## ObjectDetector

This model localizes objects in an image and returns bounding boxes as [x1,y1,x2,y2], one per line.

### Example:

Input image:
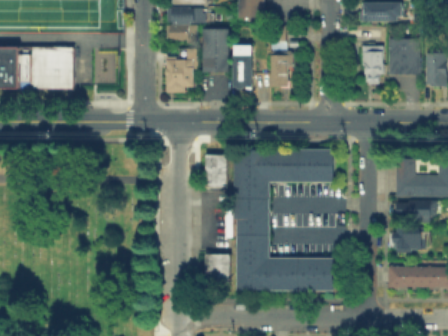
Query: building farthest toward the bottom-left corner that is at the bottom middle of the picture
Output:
[204,254,230,285]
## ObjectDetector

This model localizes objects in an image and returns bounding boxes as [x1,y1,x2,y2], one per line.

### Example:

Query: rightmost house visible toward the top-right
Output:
[426,52,448,86]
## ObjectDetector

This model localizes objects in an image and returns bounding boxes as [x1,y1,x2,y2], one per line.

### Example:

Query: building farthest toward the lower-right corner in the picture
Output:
[389,266,448,289]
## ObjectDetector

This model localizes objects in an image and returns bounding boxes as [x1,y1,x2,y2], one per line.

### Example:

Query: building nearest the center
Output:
[205,154,227,190]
